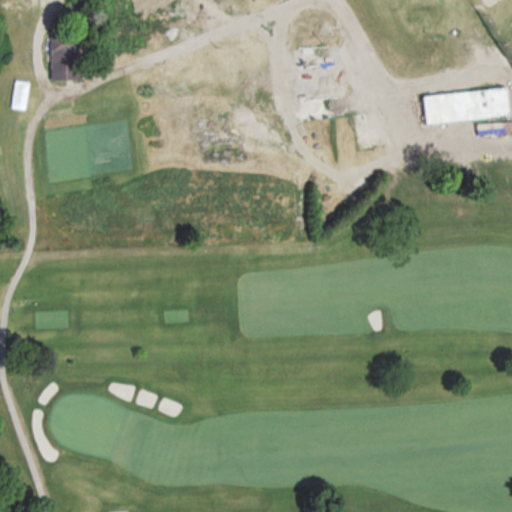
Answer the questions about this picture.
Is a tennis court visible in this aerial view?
No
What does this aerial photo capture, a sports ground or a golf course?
golf course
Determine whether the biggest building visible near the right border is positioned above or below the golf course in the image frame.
above it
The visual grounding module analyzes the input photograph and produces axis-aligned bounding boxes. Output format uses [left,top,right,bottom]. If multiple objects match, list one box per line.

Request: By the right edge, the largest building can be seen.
[424,88,510,125]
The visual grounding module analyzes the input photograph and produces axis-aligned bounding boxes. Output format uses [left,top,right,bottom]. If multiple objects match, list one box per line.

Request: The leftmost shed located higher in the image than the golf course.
[11,79,30,111]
